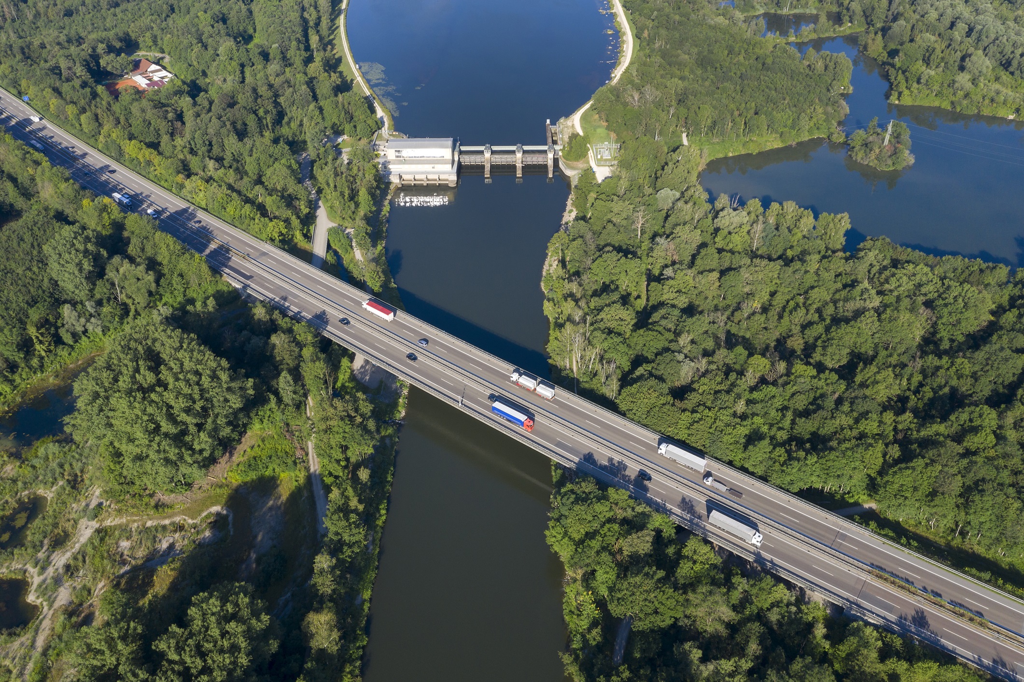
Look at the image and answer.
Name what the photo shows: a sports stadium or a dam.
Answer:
dam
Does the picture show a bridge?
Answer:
Yes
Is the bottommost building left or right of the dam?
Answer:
to the left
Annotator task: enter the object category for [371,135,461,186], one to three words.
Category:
building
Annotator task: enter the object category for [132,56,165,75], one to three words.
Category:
house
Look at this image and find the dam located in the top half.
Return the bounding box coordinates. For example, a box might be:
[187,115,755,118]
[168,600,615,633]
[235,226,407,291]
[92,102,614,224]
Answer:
[460,121,562,178]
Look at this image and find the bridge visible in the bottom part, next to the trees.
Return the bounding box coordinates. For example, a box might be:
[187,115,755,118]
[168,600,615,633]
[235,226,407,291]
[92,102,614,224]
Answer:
[229,252,874,604]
